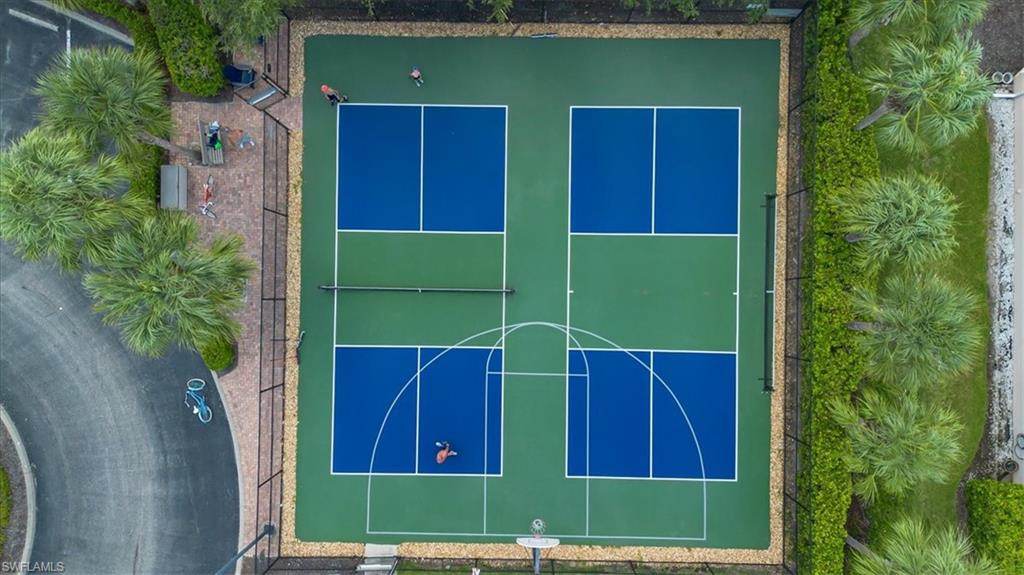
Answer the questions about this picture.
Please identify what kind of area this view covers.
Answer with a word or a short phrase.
sports ground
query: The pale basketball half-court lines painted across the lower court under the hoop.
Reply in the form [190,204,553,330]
[367,321,706,541]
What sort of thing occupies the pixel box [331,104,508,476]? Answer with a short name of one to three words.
sports court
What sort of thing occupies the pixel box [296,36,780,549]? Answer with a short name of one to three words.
sports court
